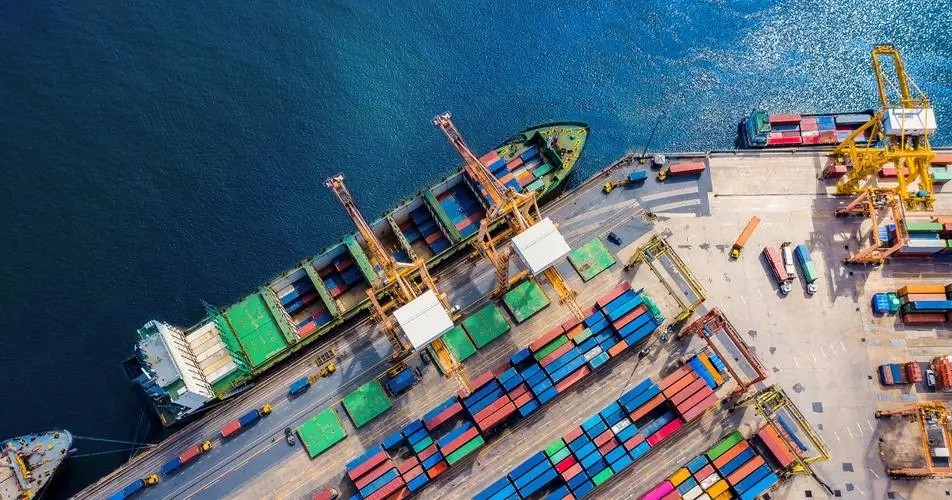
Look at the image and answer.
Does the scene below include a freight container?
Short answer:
Yes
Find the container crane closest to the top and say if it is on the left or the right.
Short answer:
right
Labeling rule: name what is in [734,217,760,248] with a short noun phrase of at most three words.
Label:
shipping container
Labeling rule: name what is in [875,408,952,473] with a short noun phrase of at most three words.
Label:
container crane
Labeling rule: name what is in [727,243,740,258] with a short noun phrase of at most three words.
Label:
vehicle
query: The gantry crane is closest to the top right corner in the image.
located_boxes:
[821,46,946,207]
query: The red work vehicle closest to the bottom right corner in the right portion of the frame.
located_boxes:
[932,359,952,391]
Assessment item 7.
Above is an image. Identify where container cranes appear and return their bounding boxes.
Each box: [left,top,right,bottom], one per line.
[435,110,589,319]
[324,172,474,396]
[875,408,952,473]
[726,387,832,477]
[832,191,909,262]
[821,46,946,207]
[668,307,760,393]
[620,234,708,326]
